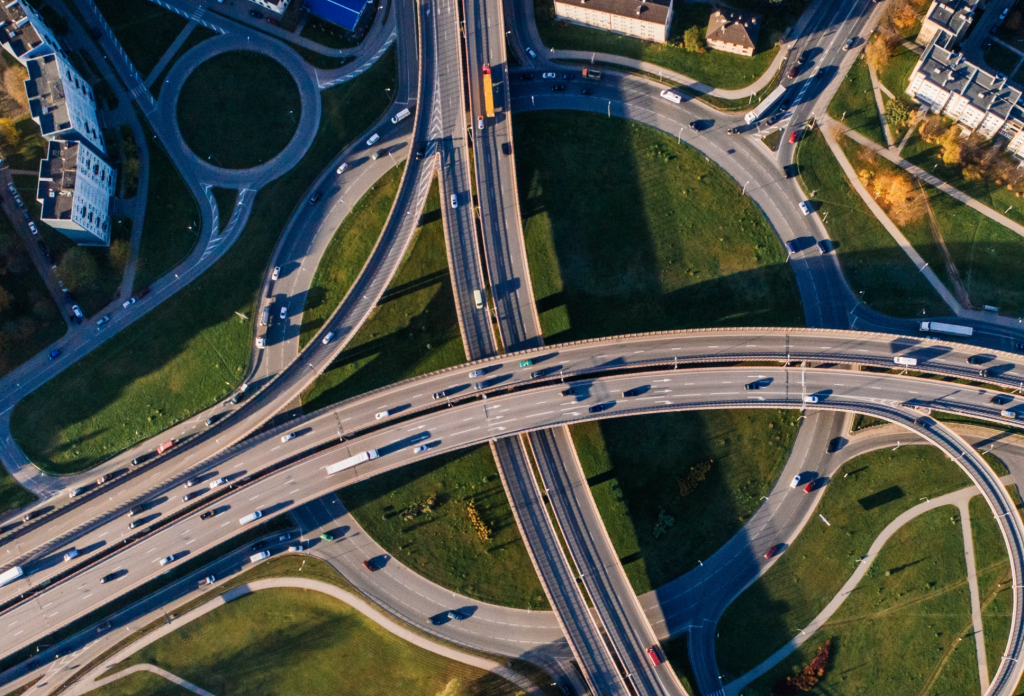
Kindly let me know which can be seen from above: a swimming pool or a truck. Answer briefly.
truck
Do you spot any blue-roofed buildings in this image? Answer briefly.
Yes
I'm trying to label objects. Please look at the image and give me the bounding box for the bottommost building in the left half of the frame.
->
[36,140,116,245]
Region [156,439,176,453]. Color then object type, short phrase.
red vehicle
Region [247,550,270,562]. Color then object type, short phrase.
white vehicle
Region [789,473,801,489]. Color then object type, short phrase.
white vehicle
